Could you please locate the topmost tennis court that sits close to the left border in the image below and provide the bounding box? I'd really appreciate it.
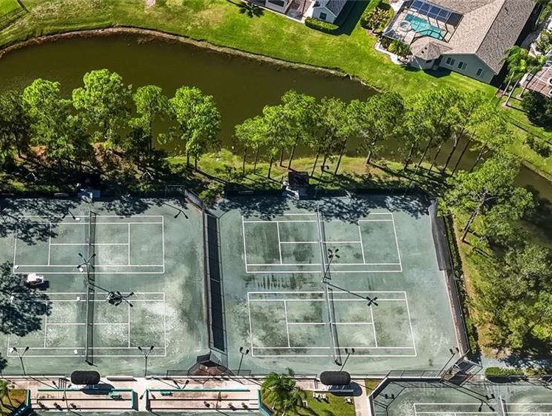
[0,195,206,283]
